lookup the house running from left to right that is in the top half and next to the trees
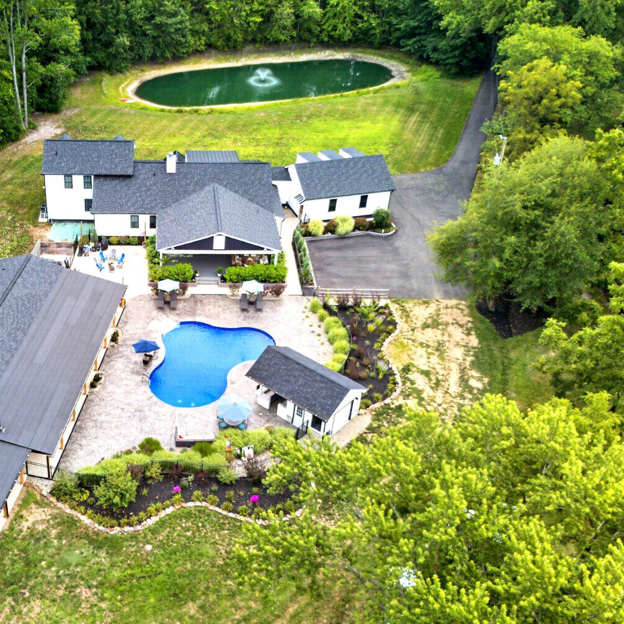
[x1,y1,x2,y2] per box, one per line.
[39,131,394,286]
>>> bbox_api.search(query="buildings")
[39,131,394,286]
[245,346,365,440]
[0,253,129,537]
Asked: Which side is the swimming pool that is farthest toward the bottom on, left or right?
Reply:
left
